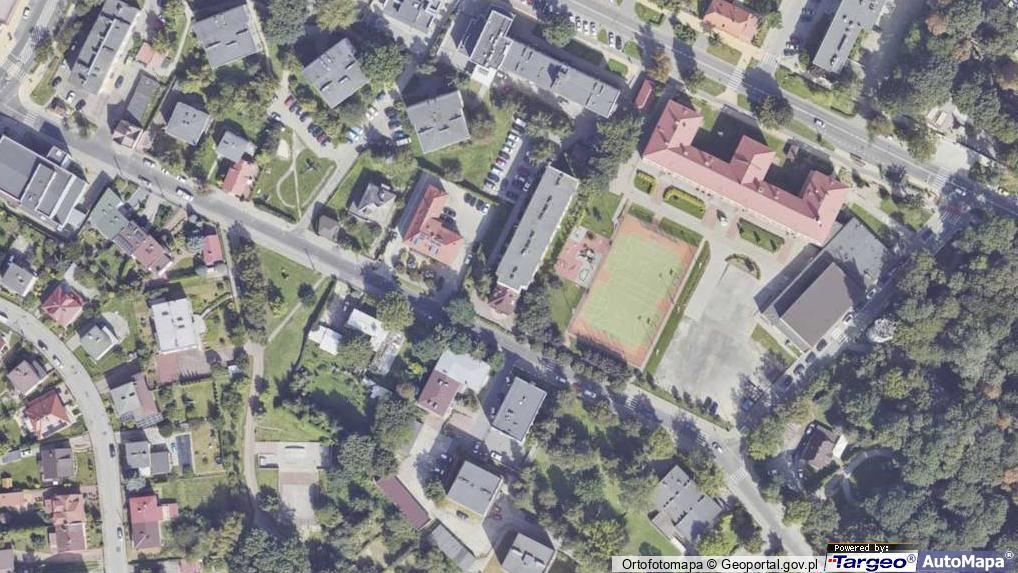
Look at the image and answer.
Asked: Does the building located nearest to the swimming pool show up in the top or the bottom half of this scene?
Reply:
bottom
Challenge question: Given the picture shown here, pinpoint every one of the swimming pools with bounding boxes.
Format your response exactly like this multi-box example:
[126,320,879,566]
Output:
[177,434,196,477]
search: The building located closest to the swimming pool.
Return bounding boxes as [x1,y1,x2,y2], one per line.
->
[151,450,172,475]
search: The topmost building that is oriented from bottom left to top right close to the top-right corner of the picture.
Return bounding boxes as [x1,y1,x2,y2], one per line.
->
[812,0,890,76]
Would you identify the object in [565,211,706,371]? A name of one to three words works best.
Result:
sports field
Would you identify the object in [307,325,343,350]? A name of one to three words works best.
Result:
shed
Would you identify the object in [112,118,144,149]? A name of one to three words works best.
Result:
house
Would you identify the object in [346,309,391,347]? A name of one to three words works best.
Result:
building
